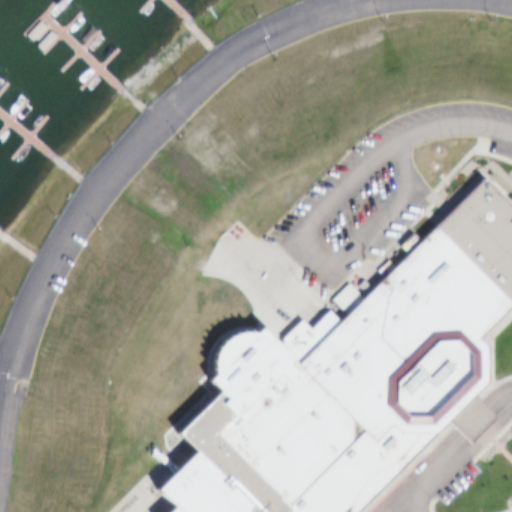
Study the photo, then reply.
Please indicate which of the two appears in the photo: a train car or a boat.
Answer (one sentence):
The image shows a boat.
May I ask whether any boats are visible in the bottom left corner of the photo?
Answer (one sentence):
No, no boat can be made out in the bottom left corner of the photo.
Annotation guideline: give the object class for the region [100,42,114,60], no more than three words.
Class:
boat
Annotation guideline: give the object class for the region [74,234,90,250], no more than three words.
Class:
vehicle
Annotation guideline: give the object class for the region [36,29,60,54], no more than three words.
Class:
boat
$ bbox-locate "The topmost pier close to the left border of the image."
[23,4,148,111]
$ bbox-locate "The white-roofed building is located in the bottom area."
[156,175,512,512]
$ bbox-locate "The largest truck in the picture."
[147,444,172,468]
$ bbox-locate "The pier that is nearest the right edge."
[138,0,215,50]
